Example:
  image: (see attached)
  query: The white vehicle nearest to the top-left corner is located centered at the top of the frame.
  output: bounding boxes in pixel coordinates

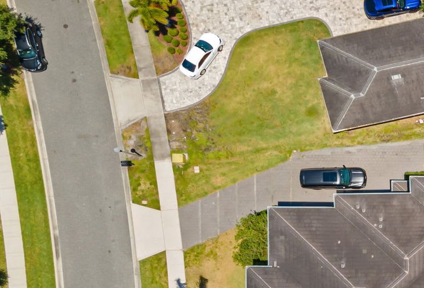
[179,32,225,83]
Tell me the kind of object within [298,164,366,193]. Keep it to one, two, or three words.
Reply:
car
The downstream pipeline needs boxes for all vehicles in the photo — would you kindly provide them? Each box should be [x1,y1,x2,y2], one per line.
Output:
[18,18,52,74]
[179,32,225,83]
[298,164,366,193]
[362,0,421,21]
